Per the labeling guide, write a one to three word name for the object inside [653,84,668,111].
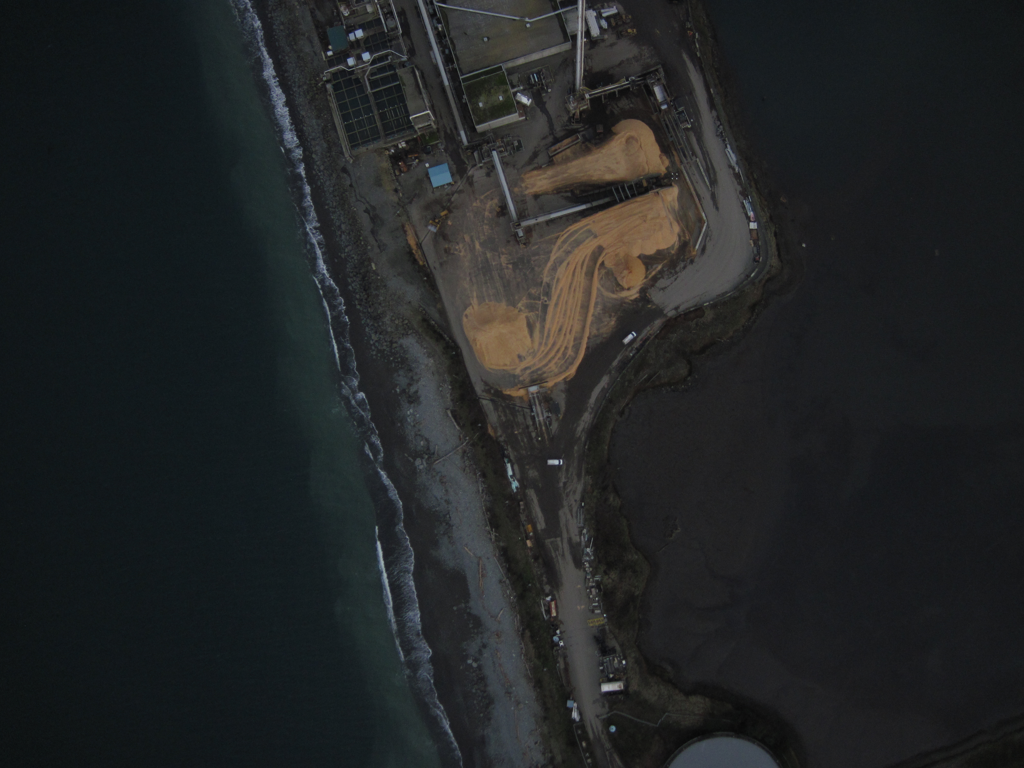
vehicle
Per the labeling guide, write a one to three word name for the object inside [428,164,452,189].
shed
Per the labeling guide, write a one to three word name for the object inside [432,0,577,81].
building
